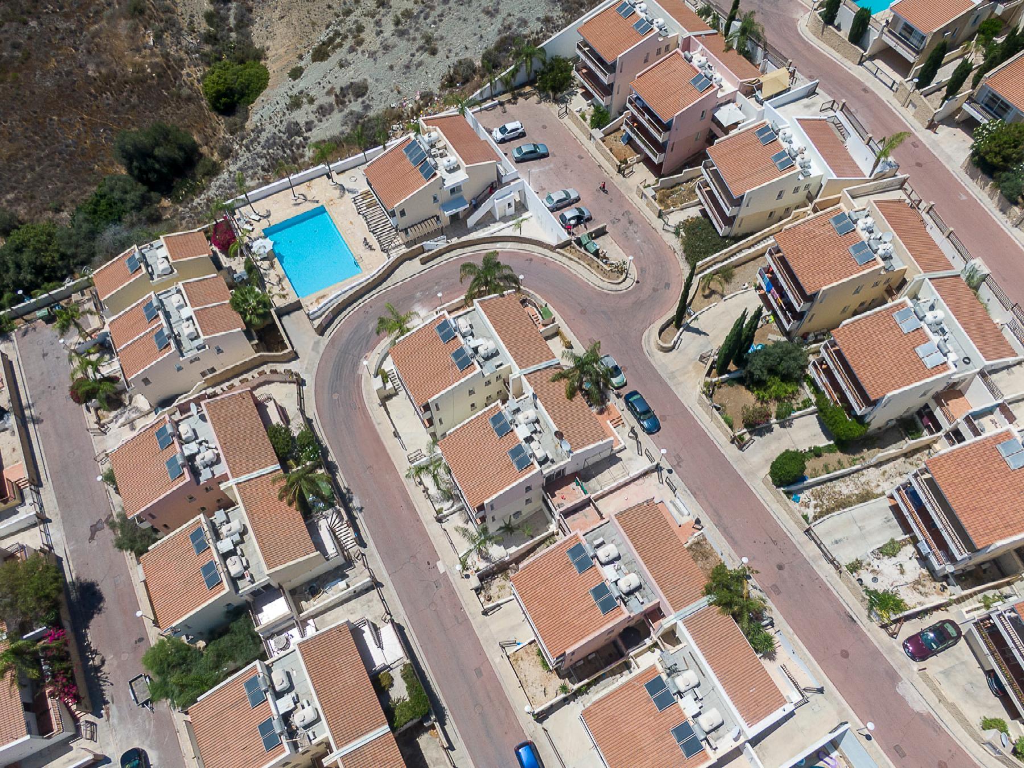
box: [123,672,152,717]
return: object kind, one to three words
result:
trailer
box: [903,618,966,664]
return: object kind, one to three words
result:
car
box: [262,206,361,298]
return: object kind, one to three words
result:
swimming pool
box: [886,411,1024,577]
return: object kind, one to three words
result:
house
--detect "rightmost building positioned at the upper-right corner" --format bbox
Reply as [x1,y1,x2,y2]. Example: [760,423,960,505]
[964,60,1024,149]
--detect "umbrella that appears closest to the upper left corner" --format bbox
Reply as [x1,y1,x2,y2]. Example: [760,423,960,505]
[243,231,269,257]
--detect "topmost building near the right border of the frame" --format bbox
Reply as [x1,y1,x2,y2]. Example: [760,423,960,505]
[875,0,1019,78]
